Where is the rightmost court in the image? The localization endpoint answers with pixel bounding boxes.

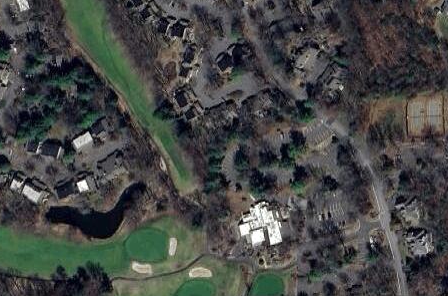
[427,97,444,136]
